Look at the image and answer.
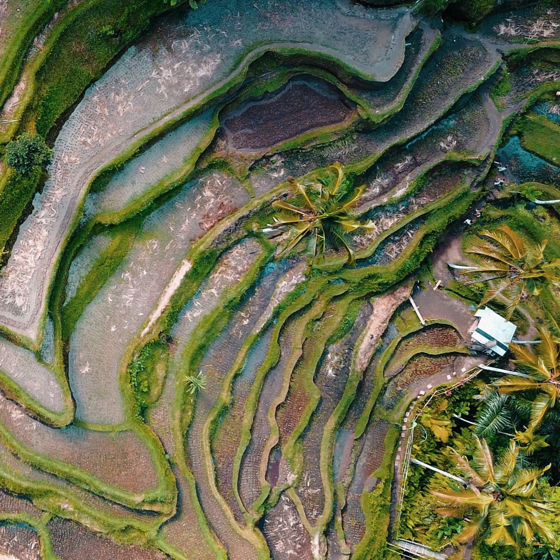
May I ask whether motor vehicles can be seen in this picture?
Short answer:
No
